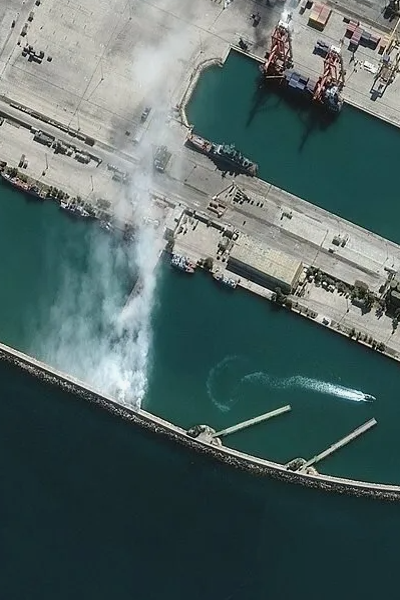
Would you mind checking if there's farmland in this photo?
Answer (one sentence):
No, no farmland is visible.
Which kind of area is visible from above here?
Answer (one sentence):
This looks like a port.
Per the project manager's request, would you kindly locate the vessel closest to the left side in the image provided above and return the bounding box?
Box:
[0,174,47,202]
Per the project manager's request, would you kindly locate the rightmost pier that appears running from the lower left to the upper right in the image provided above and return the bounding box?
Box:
[299,420,378,469]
